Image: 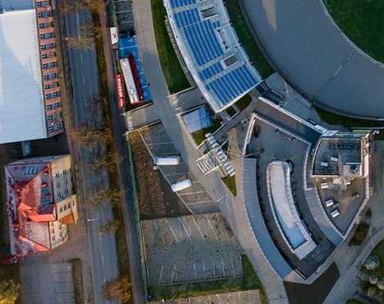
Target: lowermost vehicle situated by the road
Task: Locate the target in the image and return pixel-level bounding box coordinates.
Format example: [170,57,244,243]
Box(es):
[170,179,194,193]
